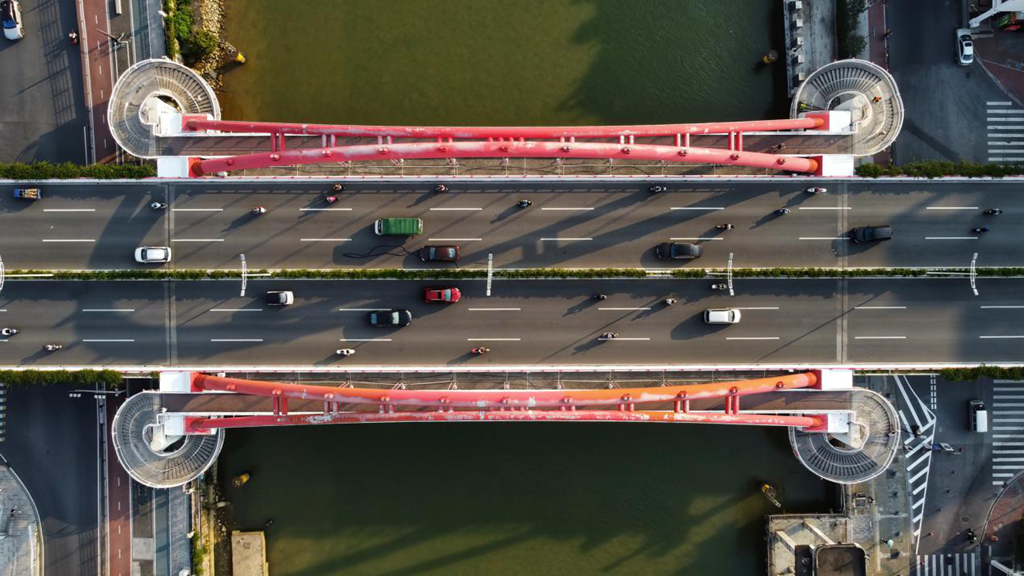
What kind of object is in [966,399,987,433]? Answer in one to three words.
vehicle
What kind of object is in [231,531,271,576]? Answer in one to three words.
pier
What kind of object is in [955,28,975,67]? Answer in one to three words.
car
